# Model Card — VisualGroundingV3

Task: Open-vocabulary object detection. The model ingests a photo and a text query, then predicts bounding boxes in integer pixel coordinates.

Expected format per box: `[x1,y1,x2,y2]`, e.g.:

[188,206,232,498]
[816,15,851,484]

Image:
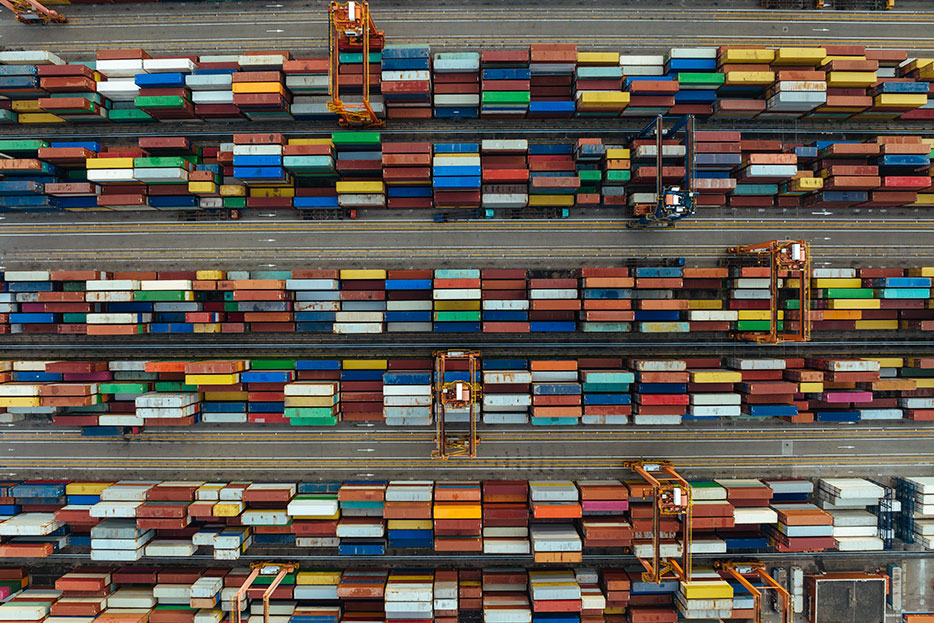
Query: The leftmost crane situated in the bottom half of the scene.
[230,564,299,623]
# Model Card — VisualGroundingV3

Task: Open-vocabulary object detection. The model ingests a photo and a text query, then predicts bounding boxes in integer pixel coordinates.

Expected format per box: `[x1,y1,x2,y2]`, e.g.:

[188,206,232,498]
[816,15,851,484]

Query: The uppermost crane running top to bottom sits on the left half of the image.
[326,1,386,128]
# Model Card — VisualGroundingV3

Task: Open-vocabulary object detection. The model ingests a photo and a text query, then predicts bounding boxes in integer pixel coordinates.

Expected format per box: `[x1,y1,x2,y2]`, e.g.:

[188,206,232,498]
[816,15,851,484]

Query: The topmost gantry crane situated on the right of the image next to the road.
[628,112,698,227]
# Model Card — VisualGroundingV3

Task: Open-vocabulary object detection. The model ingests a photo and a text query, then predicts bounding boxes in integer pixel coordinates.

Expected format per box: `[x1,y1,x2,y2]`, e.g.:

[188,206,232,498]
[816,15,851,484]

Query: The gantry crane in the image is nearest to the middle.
[432,349,482,458]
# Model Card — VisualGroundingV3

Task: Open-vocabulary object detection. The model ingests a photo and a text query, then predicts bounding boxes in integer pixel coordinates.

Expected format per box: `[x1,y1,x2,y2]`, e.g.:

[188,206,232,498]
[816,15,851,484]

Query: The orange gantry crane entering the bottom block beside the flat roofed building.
[718,562,799,623]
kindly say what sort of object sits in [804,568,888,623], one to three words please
building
